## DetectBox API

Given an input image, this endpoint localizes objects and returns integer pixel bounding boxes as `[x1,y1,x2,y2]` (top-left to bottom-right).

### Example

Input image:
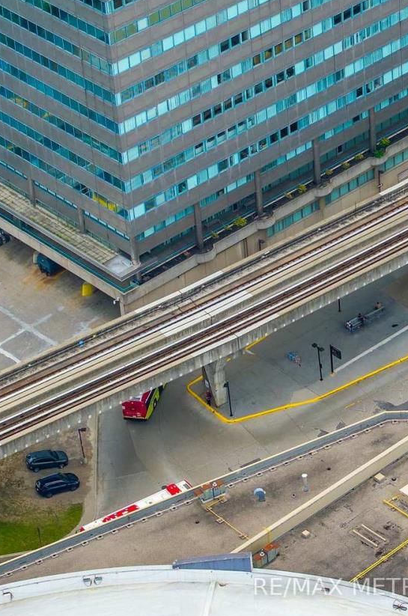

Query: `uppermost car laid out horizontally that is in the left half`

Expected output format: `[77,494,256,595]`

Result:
[23,447,70,471]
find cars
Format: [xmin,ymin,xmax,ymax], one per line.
[23,447,70,471]
[34,472,81,497]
